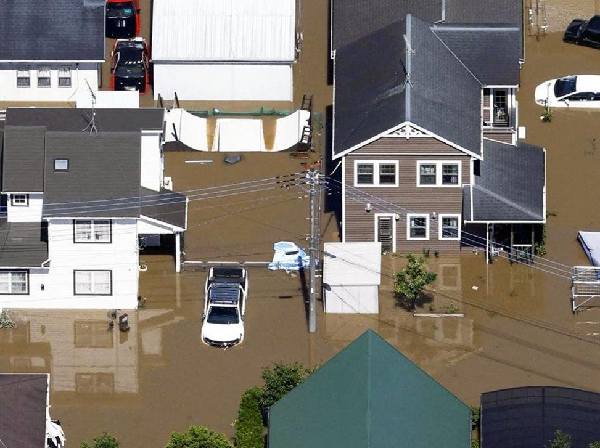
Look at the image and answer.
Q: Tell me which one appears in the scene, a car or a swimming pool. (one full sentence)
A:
Looking from above, you can make out a car.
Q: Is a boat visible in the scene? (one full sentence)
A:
No, I can't see a single boat in this photo.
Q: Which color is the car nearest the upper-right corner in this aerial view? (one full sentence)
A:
In this view, the car nearest the upper-right corner is black.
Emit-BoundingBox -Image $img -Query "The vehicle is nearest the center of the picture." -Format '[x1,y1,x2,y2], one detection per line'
[200,267,250,348]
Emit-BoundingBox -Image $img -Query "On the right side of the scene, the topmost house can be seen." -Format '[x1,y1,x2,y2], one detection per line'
[328,0,547,263]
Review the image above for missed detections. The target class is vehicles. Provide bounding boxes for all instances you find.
[200,267,250,348]
[558,7,600,45]
[105,0,145,36]
[109,31,153,96]
[529,70,600,107]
